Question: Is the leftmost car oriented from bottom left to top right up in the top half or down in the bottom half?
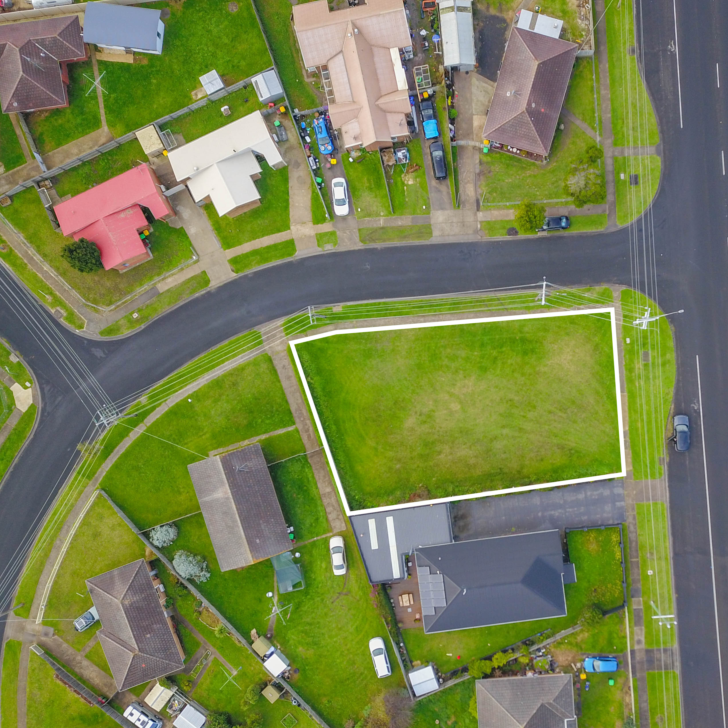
bottom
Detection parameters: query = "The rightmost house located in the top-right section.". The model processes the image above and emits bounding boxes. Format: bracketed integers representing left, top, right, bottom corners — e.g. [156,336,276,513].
[481,9,579,157]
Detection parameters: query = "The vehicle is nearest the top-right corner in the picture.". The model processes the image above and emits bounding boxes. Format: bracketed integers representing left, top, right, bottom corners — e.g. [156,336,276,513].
[538,215,571,232]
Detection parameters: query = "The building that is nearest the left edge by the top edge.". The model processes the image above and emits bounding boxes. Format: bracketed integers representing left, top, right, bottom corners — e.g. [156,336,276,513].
[0,15,90,116]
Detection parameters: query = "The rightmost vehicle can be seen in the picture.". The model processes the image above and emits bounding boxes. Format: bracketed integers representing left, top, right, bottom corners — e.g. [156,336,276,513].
[670,415,691,451]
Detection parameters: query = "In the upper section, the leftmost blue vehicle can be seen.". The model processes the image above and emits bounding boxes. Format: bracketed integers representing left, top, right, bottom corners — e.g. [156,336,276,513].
[314,118,334,155]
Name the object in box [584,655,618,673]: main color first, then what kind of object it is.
blue car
